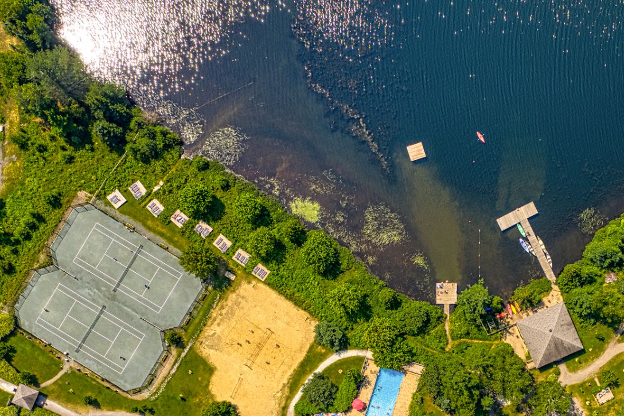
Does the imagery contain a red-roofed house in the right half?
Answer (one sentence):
No, I see no red-roofed house in the right half.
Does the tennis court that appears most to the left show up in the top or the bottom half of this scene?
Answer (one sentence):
The bottom half of the photo is where the tennis court that appears most to the left is.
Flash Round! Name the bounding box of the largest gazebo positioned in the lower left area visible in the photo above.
[11,385,43,411]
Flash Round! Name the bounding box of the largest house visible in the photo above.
[516,302,584,369]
